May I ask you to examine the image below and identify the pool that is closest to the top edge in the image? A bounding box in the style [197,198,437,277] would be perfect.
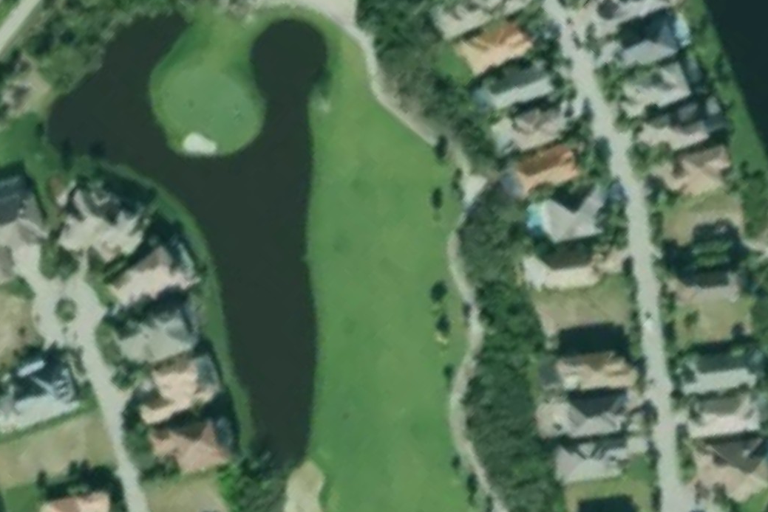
[673,13,695,47]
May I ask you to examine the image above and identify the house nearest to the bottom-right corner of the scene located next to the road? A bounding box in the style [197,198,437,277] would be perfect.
[685,434,768,507]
